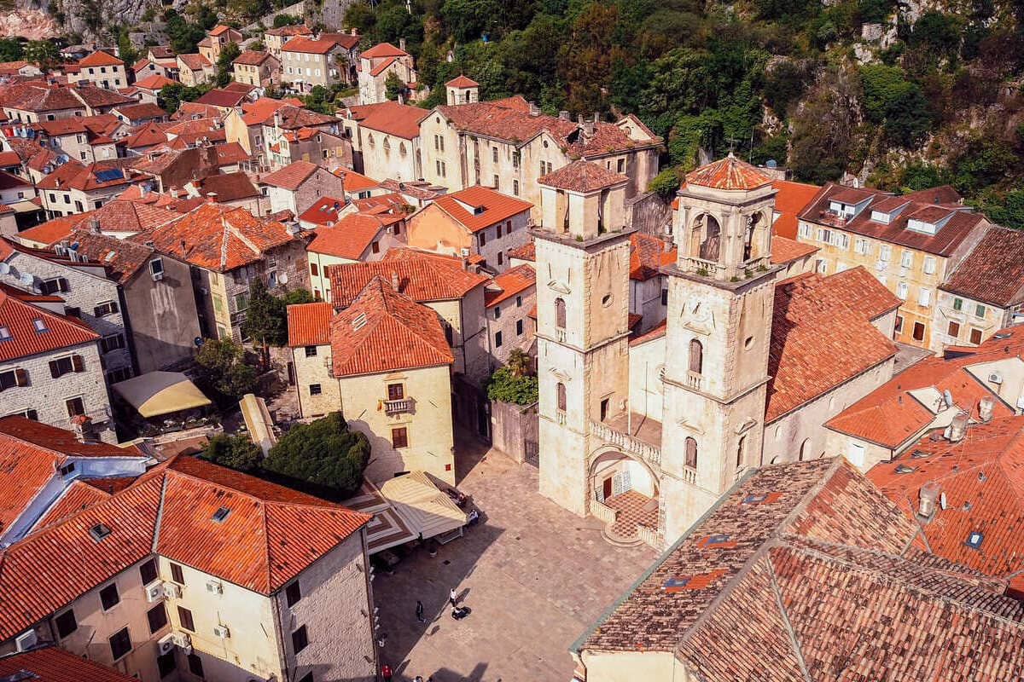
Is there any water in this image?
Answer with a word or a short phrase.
No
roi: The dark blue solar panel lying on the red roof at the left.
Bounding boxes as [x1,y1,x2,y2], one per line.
[89,165,129,183]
